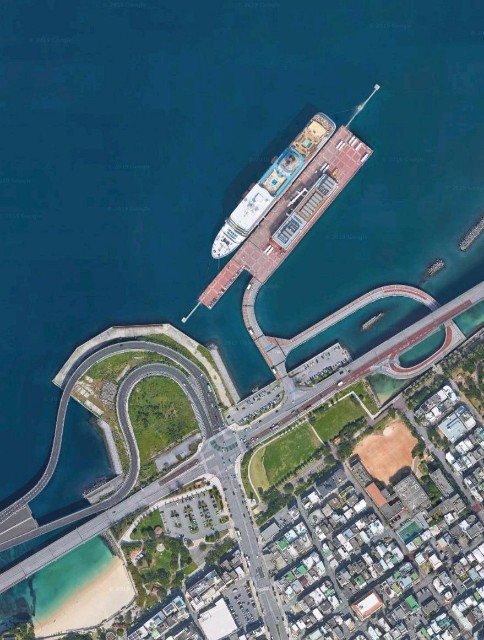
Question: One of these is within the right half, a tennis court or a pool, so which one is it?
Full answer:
The feature located within the right half is a pool.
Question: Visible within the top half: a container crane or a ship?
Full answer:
What appears within the top half is a ship.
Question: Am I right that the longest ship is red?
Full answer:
No, from above the longest ship looks white.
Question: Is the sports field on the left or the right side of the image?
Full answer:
The sports field is on the right side of the image.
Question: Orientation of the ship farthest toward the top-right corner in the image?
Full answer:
In this picture, the ship farthest toward the top-right corner lies on a diagonal.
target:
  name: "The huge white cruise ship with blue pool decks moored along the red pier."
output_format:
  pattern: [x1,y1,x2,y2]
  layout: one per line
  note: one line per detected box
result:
[214,109,336,259]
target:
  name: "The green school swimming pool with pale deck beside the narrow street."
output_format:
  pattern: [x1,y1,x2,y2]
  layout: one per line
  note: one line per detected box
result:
[396,519,425,544]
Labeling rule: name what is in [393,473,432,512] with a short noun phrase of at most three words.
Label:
building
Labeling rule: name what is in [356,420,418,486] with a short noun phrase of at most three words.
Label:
sports field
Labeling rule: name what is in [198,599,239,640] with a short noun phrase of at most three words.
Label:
building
